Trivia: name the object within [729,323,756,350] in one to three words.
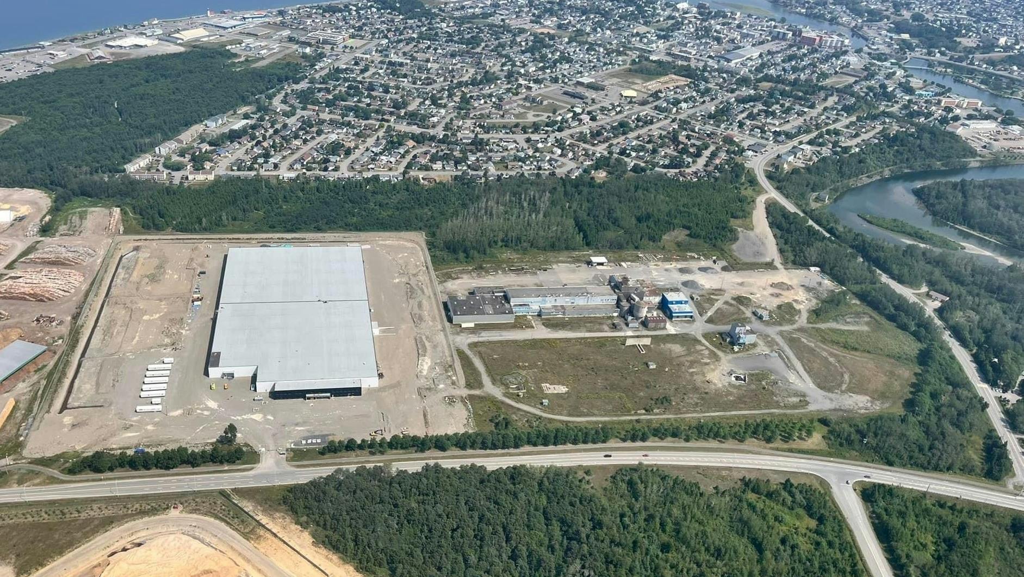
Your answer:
house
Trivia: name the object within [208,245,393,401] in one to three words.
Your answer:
warehouse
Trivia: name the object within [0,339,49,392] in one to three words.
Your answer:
shed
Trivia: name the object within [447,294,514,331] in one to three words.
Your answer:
building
